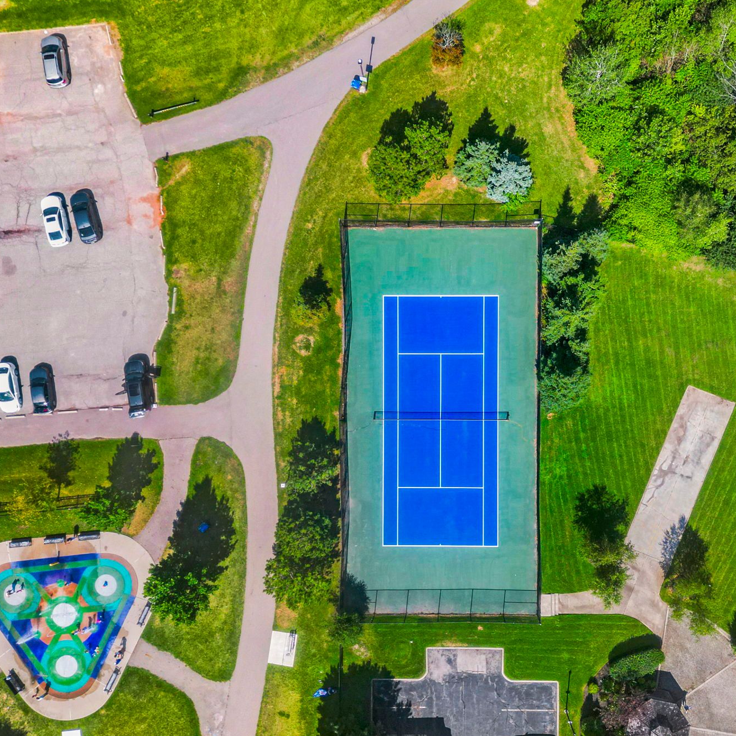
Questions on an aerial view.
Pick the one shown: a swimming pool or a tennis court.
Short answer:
tennis court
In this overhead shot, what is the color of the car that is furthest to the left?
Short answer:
white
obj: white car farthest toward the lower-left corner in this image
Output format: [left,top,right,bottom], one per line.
[0,362,28,413]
